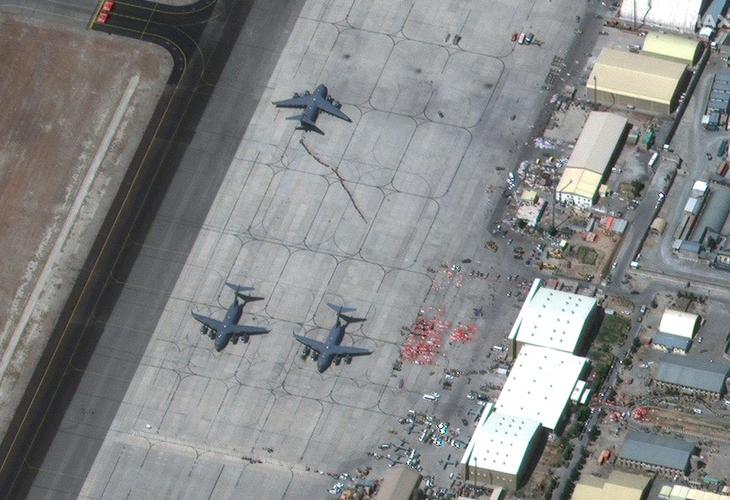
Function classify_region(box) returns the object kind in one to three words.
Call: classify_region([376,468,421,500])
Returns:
building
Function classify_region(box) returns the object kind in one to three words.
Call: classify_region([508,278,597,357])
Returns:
hangar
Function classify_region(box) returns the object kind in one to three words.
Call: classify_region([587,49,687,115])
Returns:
hangar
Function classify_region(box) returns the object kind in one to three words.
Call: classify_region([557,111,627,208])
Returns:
building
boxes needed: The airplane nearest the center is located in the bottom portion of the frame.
[294,302,373,373]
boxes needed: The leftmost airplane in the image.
[192,280,272,352]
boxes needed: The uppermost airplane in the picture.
[270,83,349,128]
